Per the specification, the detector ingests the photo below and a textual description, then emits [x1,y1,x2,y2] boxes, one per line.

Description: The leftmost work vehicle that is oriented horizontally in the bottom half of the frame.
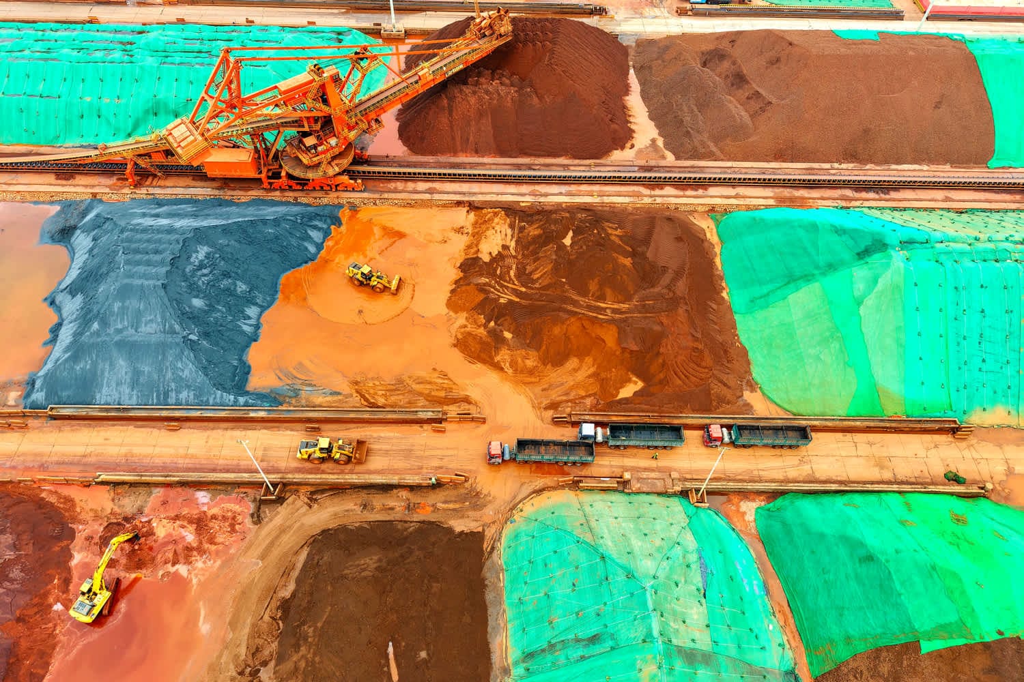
[294,439,368,466]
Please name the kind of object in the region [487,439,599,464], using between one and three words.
truck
